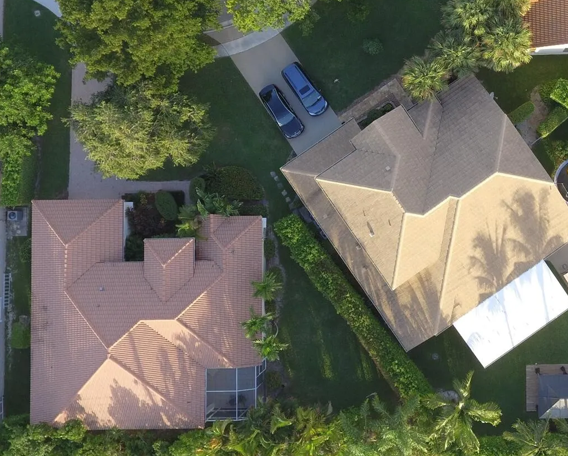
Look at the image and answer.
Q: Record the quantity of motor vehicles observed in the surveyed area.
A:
2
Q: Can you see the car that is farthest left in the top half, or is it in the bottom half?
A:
top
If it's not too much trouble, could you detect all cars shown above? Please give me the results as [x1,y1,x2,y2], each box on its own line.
[280,58,329,119]
[260,82,303,141]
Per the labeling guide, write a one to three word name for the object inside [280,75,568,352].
house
